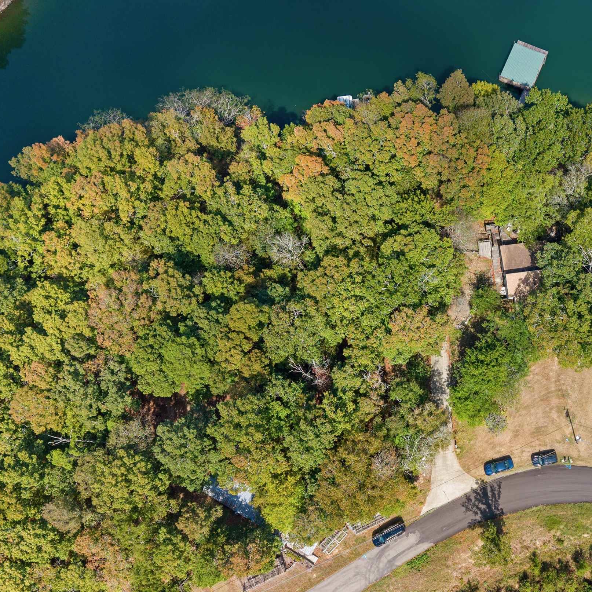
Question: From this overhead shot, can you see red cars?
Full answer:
No, there is no red car in the image.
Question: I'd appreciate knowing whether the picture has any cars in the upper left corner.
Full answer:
No, I see no car in the upper left corner.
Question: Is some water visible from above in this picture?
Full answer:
Yes, water can be seen from above here.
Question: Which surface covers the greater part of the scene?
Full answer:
The scene is dominated by trees.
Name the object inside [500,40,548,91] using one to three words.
pier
